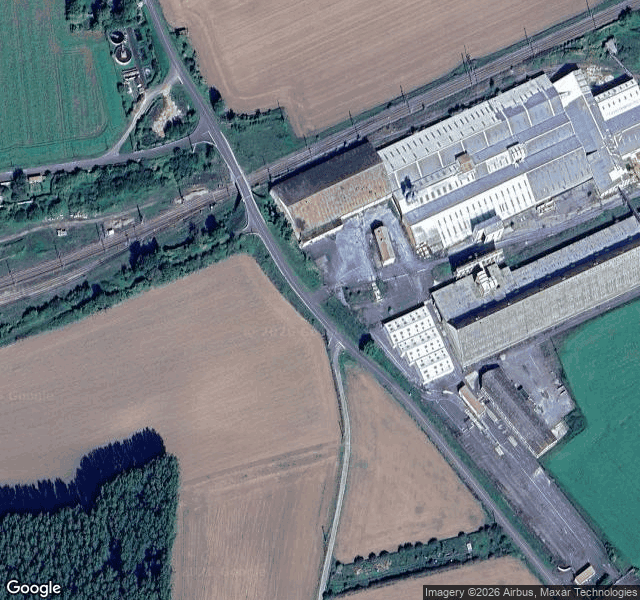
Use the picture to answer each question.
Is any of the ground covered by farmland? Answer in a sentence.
Yes, farmland can be seen from above here.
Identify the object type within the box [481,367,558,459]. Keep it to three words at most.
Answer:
building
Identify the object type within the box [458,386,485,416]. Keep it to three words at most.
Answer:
building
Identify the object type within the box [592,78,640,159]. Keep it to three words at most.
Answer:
shed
